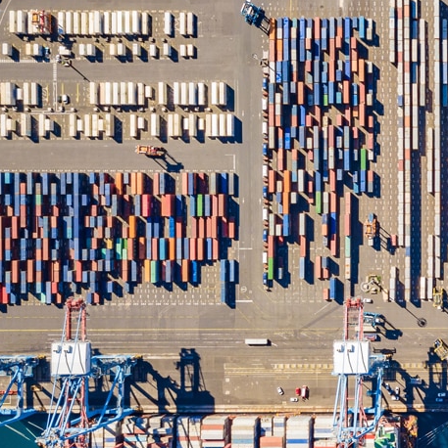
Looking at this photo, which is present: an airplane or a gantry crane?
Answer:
gantry crane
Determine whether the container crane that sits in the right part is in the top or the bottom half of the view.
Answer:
bottom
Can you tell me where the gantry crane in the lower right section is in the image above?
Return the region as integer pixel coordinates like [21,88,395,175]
[331,298,389,448]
